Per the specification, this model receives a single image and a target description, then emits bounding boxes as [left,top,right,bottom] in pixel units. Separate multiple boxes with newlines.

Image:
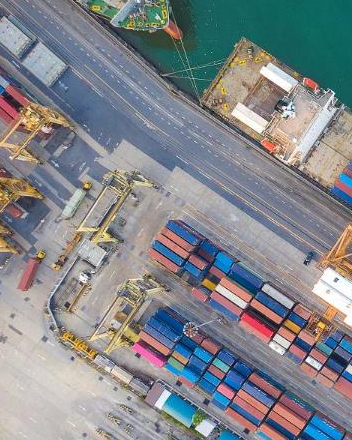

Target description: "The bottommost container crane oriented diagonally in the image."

[83,273,175,359]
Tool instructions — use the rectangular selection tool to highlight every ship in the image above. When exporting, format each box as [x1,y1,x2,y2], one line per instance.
[88,0,185,37]
[204,41,352,190]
